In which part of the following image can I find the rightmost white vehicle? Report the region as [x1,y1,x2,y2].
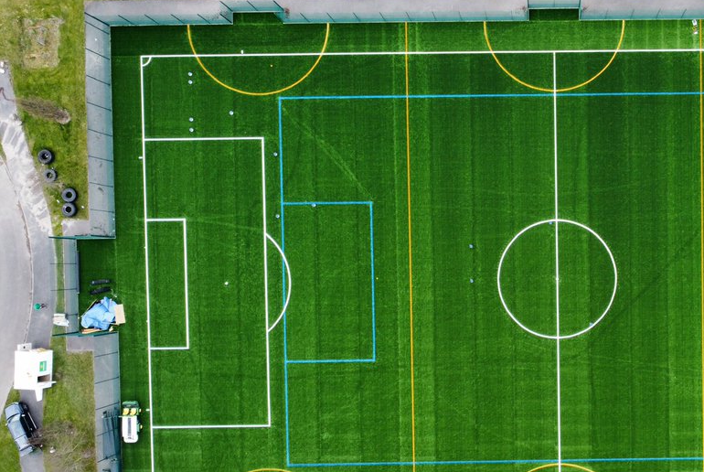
[120,402,145,446]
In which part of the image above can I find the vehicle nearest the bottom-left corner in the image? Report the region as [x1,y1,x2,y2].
[0,398,41,456]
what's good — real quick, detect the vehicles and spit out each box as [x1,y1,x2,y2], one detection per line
[0,398,41,456]
[120,402,145,446]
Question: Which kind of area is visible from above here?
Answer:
sports ground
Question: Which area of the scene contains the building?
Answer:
bottom left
